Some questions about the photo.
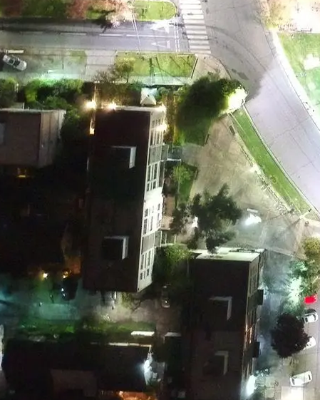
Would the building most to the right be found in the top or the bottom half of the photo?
bottom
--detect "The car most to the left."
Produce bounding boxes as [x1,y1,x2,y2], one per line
[2,53,25,69]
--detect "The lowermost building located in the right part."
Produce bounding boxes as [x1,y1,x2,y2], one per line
[185,250,262,400]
